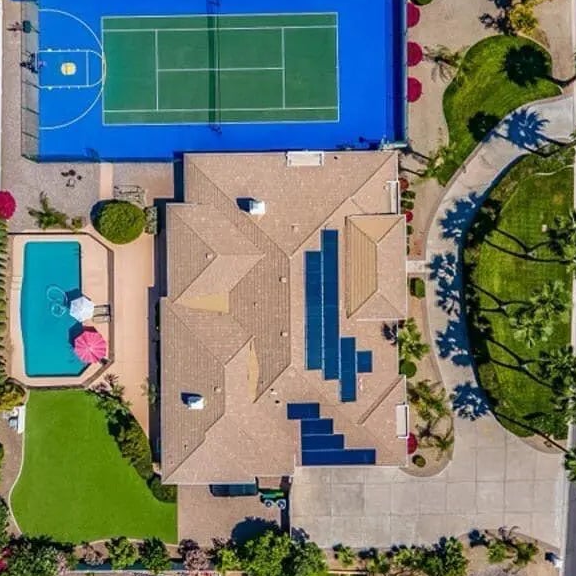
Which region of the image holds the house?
center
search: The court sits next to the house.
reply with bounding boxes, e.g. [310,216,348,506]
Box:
[39,0,402,161]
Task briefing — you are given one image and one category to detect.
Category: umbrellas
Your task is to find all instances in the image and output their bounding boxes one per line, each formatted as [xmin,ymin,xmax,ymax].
[75,330,107,362]
[70,297,94,322]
